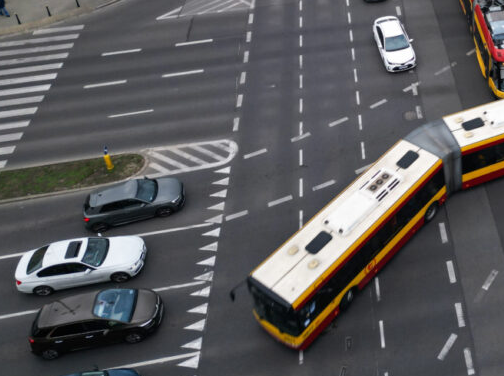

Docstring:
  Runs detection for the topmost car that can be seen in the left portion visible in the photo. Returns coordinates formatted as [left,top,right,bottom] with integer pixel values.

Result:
[84,175,186,229]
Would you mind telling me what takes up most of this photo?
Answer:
paved ground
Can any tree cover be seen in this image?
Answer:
No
